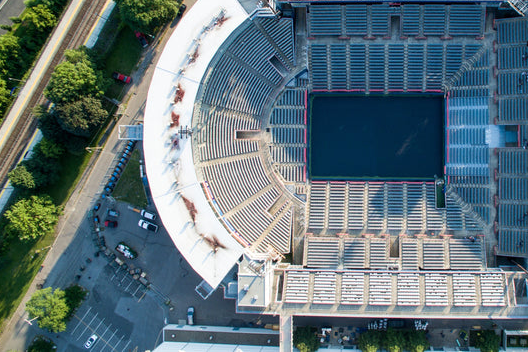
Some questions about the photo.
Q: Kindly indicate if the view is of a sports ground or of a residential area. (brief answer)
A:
sports ground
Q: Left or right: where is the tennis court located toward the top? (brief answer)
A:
right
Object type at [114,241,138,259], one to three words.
vehicle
